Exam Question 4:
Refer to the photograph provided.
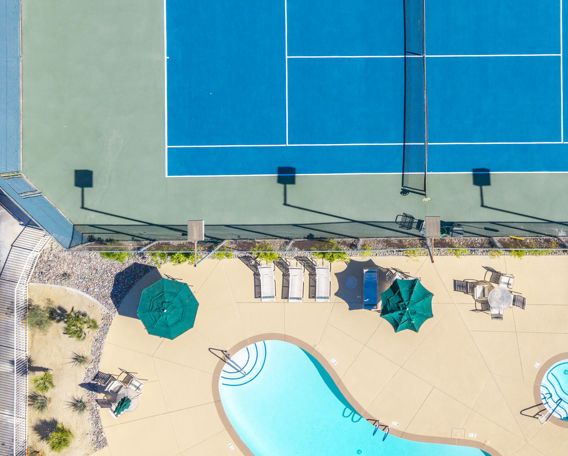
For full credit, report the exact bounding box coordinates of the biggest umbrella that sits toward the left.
[137,278,199,340]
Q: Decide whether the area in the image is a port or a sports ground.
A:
sports ground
